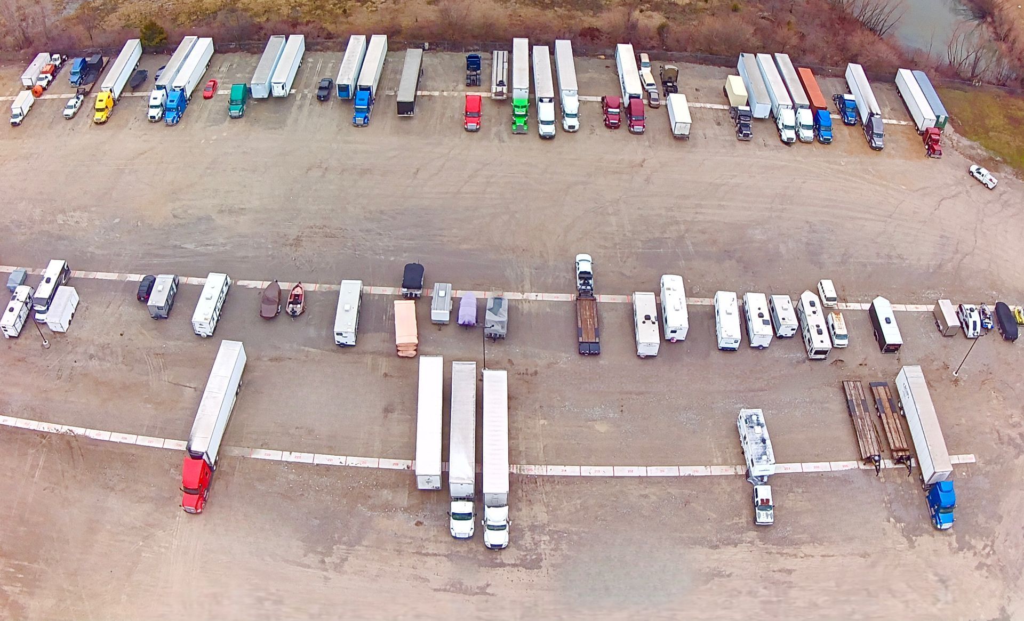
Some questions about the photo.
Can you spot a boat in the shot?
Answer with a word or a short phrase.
Yes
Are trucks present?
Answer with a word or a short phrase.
Yes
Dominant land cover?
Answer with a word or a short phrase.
paved ground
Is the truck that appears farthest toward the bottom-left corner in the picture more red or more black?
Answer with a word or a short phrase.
red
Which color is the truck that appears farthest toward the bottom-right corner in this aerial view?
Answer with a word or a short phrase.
blue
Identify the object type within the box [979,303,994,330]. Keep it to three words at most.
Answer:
boat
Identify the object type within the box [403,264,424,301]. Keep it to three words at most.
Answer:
boat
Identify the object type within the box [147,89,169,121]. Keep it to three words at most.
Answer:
truck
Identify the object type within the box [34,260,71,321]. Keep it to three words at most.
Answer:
camper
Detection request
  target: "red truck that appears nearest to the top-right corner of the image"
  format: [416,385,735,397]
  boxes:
[916,128,943,157]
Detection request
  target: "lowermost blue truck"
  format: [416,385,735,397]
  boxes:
[921,470,959,530]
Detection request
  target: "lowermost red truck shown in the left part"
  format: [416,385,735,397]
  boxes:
[179,451,218,513]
